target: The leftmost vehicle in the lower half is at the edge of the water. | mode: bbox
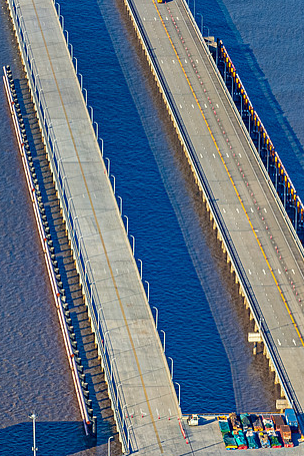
[187,411,200,426]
